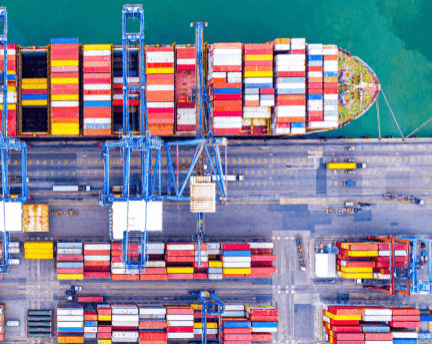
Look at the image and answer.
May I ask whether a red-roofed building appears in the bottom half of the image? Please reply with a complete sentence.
No, the scene shows no red-roofed building in the bottom half of the image.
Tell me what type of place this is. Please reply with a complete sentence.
This looks like a port.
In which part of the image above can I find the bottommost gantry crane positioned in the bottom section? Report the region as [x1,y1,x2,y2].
[188,291,232,344]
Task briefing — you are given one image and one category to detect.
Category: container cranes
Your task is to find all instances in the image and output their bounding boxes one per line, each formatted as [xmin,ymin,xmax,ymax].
[381,235,432,299]
[188,291,232,344]
[87,0,168,274]
[0,1,34,274]
[356,235,412,299]
[152,19,224,266]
